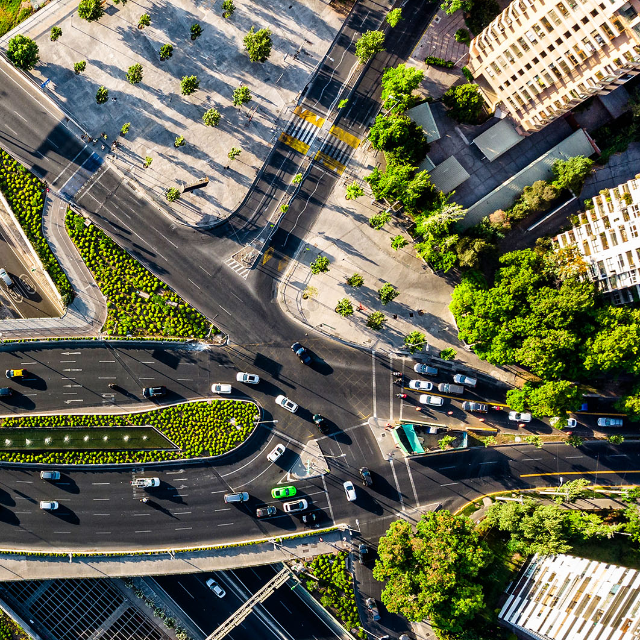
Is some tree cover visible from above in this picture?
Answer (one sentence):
Yes, there is tree cover in the image.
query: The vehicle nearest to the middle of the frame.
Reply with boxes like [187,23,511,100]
[291,340,314,366]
